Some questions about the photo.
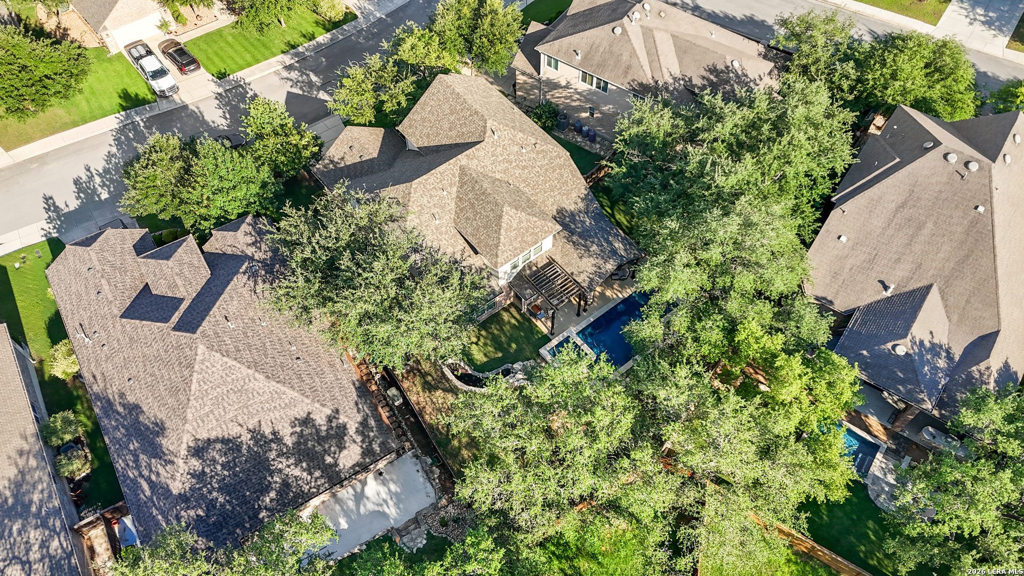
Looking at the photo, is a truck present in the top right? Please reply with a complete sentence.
No, no truck appears in the top right.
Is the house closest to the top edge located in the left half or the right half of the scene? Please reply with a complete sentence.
The house closest to the top edge appears in the left half of the scene.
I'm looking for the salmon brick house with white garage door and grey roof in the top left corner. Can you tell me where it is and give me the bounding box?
[69,0,176,51]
